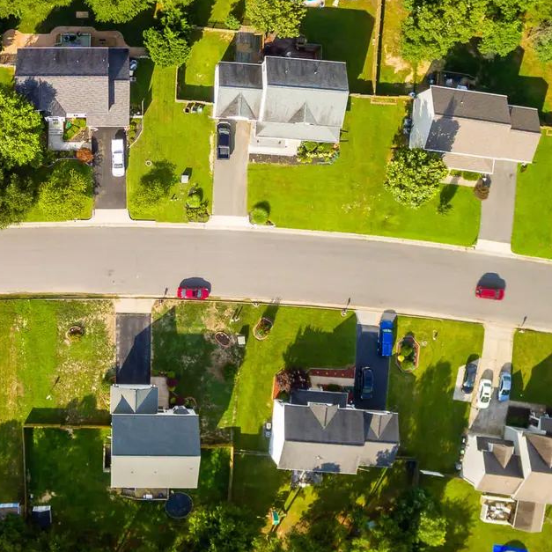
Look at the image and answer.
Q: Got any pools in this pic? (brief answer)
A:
Yes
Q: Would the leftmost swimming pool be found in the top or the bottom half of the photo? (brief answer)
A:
bottom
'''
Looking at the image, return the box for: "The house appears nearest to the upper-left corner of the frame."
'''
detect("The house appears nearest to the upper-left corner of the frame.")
[14,48,130,135]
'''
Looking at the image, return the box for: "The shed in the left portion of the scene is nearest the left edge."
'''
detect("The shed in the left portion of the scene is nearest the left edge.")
[0,497,22,519]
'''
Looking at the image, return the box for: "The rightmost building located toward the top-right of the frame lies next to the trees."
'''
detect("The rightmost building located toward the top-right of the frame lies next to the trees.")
[410,86,541,175]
